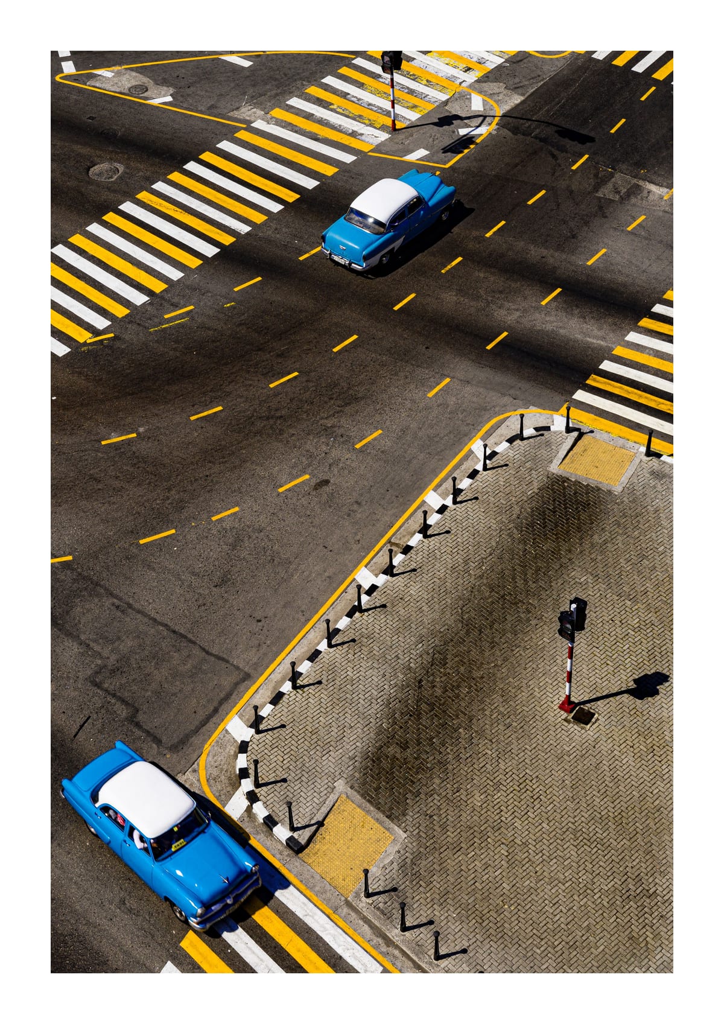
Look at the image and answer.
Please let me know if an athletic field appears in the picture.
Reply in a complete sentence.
No, the scene contains no athletic field.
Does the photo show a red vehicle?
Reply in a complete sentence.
No, no red vehicle is visible in the scene.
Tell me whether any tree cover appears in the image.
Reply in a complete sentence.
No, there is no tree cover in the image.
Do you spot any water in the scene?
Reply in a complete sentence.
No, no water is visible.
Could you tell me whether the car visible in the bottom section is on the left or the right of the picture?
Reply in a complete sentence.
The car visible in the bottom section sits on the left side.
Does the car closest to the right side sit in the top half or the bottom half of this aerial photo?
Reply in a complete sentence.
You can find the car closest to the right side in the top half.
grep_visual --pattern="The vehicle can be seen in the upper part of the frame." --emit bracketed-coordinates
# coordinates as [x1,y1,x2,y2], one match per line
[317,171,464,273]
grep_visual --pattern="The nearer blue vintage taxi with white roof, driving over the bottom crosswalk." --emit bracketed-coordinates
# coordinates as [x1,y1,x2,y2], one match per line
[55,742,267,932]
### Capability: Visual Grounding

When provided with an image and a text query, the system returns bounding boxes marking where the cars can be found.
[317,171,464,273]
[55,742,267,932]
